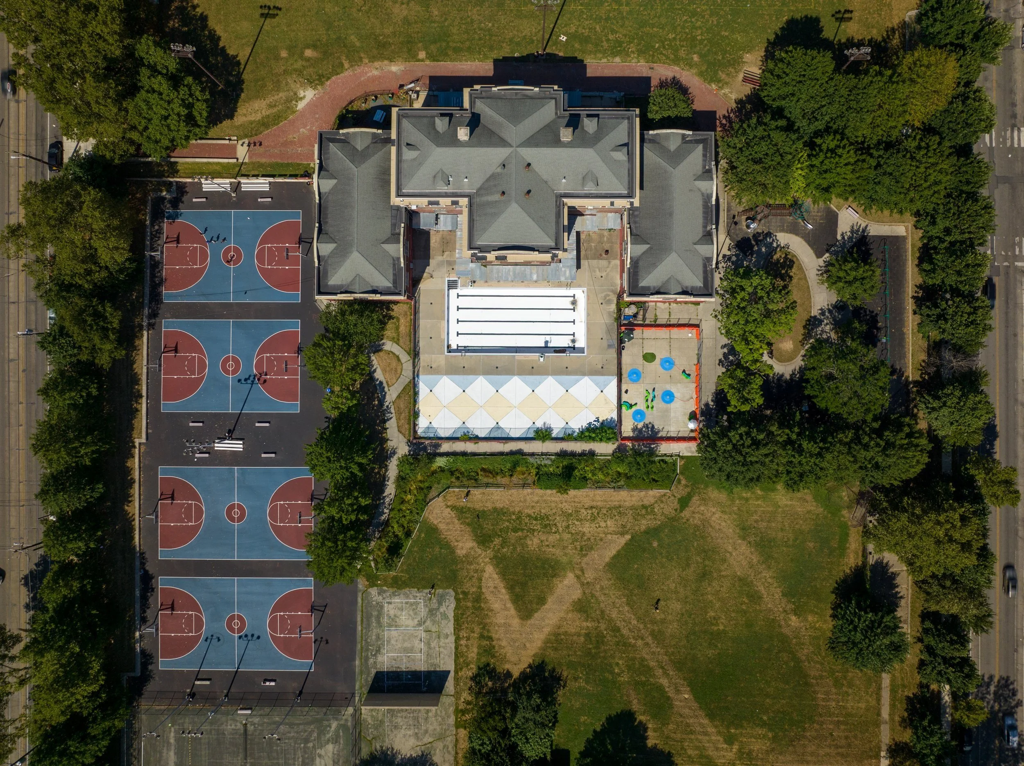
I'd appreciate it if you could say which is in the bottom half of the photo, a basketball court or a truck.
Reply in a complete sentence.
You can see a basketball court in the bottom half of the photo.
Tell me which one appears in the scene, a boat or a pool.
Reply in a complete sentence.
The one in the frame is a pool.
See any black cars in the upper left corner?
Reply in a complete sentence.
Yes, the scene does show a black car in the upper left corner.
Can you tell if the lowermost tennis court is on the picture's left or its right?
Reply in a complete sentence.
The lowermost tennis court appears in the left half of the scene.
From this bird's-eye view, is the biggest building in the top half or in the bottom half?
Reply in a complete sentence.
The biggest building is in the top half of the image.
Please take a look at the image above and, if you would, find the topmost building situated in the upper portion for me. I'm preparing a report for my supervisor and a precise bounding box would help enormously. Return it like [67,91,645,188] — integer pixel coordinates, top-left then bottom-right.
[313,82,718,304]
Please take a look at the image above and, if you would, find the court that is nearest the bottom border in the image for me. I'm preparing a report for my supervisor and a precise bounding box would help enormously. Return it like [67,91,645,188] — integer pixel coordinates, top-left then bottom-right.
[142,707,356,766]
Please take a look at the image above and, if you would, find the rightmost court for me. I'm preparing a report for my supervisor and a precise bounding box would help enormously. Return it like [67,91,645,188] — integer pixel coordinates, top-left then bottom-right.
[358,579,455,766]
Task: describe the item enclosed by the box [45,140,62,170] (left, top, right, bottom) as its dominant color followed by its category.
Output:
black car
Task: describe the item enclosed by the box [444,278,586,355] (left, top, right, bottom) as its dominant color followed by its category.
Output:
white swimming pool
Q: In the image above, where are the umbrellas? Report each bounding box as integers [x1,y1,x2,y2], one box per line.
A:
[620,331,633,344]
[687,420,697,429]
